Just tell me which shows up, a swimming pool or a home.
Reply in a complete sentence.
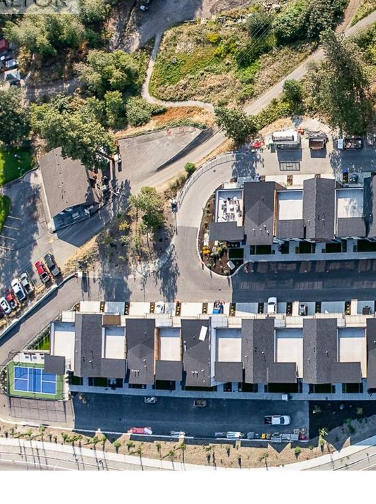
Looking from above, you can make out a home.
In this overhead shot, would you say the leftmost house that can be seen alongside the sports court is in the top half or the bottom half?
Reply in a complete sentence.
The leftmost house that can be seen alongside the sports court sits in the bottom half of the picture.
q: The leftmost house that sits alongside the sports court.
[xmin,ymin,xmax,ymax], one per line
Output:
[44,308,87,373]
